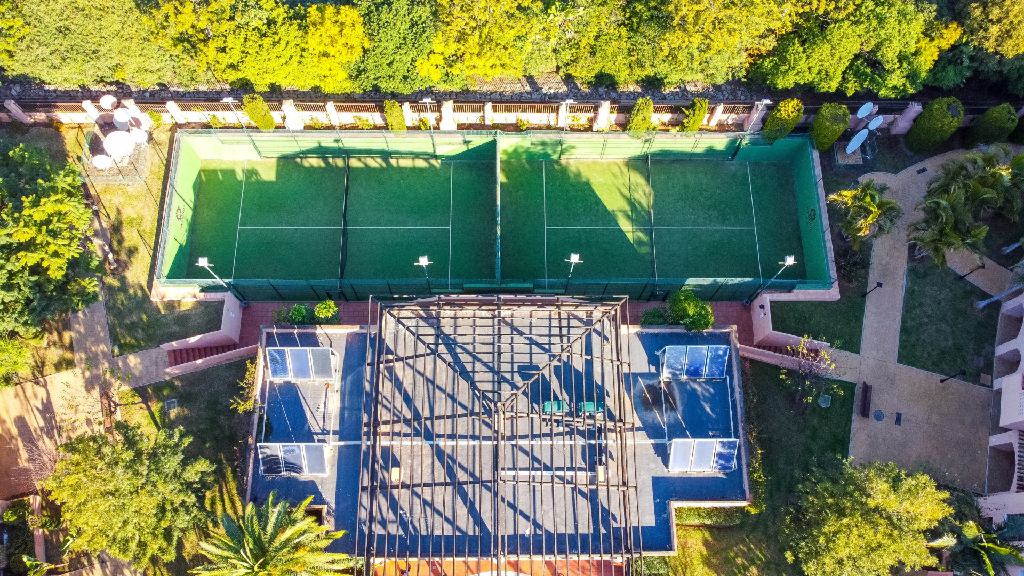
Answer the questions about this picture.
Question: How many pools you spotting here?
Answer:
zero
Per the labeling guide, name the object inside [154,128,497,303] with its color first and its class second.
green sports court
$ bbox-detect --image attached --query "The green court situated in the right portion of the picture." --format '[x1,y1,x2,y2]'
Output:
[500,130,837,302]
